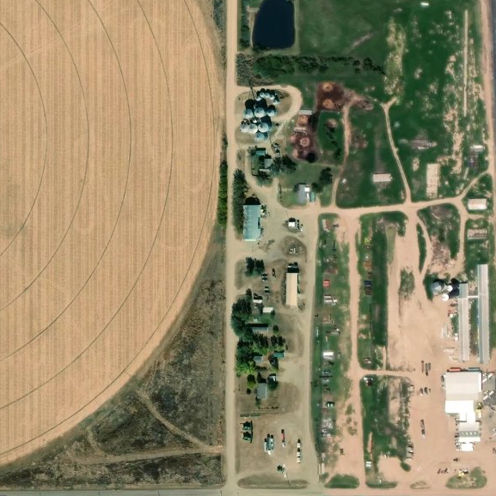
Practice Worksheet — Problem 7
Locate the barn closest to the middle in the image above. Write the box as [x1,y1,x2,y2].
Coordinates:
[243,205,261,240]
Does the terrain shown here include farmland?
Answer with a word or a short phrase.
Yes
